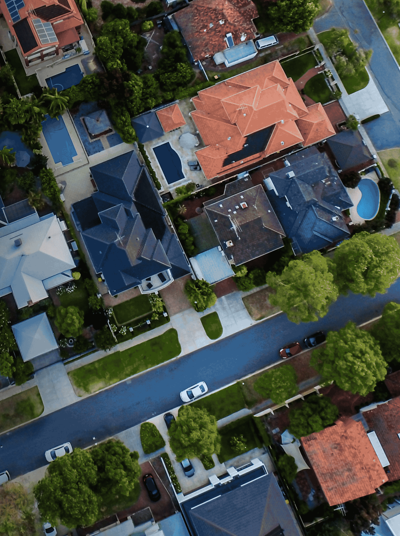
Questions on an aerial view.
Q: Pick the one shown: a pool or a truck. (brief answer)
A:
pool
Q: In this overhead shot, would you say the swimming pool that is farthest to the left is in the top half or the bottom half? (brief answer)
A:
top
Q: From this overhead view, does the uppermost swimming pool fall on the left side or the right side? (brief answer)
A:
left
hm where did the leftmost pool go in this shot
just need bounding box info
[0,129,34,164]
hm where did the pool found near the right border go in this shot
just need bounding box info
[349,176,381,222]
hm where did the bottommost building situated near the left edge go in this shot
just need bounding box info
[12,313,58,362]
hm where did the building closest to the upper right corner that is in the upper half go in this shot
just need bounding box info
[325,124,375,170]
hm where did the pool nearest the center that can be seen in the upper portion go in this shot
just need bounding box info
[151,139,188,187]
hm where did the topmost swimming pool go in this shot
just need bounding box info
[43,62,82,92]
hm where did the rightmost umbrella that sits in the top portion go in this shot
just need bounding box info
[176,130,201,154]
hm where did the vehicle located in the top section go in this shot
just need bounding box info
[253,34,280,51]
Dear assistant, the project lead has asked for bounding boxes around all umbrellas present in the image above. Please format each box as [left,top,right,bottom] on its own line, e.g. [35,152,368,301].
[176,130,201,154]
[13,149,33,168]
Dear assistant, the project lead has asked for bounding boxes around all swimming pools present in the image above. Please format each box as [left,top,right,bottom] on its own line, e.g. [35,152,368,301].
[37,116,80,169]
[151,139,188,187]
[43,62,82,92]
[349,176,381,222]
[0,129,34,164]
